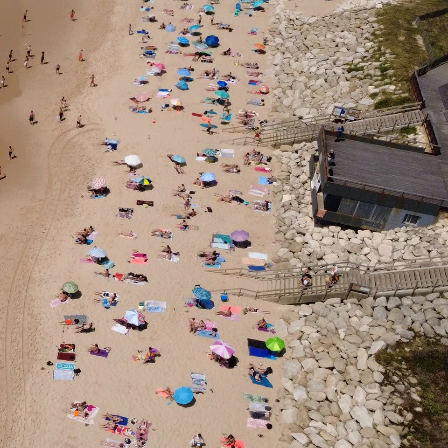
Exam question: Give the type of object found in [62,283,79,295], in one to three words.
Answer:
umbrella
